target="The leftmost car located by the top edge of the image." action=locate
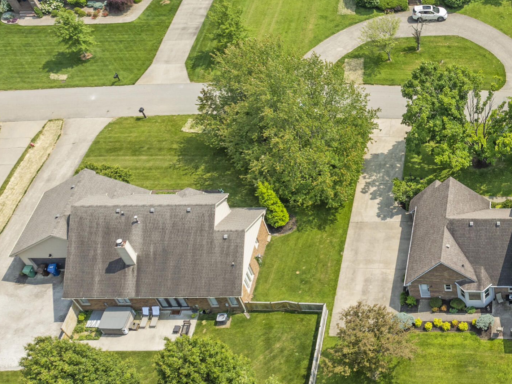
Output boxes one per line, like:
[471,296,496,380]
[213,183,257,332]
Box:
[412,2,449,20]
